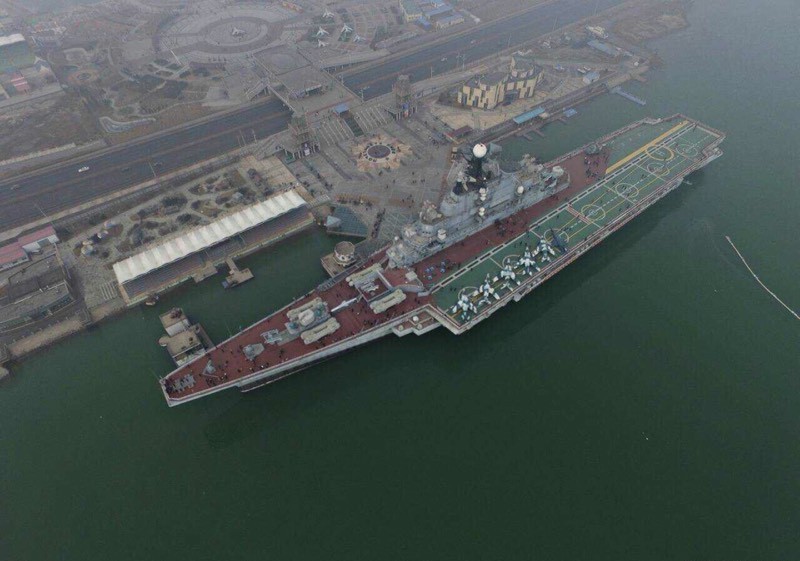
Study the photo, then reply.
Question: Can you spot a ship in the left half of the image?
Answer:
Yes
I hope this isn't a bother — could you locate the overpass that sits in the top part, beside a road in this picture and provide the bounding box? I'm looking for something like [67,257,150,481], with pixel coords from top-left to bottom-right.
[245,43,392,146]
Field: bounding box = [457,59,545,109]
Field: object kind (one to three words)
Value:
building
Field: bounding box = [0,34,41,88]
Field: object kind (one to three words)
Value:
building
